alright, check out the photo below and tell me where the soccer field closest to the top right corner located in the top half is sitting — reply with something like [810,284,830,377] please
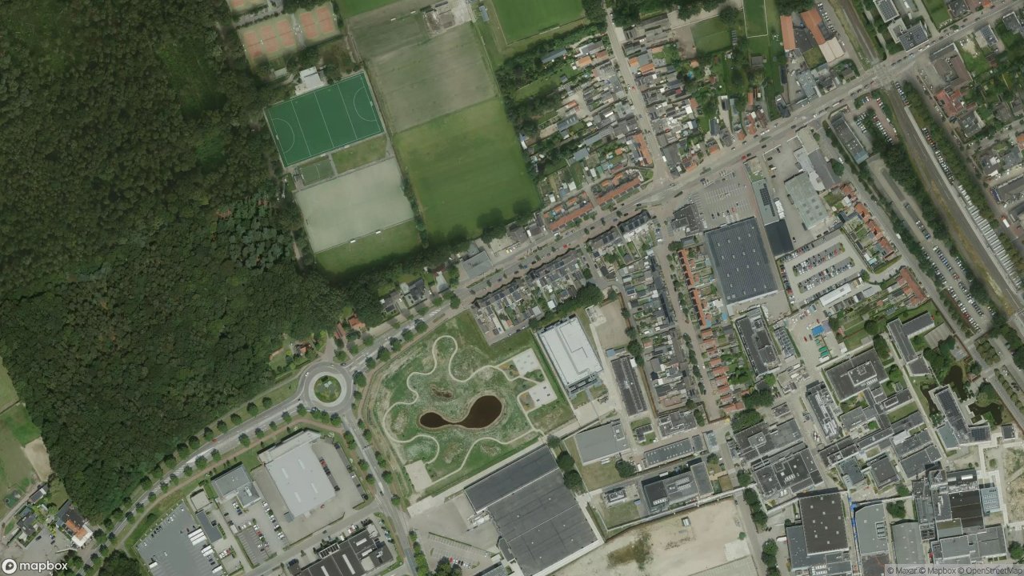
[495,0,584,44]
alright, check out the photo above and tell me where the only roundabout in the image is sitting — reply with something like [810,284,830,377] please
[301,363,354,415]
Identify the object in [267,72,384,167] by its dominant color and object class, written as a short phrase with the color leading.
green sports field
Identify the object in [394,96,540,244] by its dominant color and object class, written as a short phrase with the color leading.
green soccer field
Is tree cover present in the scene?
Yes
